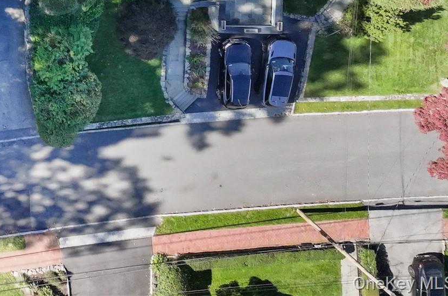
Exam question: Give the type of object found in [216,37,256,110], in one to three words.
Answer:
car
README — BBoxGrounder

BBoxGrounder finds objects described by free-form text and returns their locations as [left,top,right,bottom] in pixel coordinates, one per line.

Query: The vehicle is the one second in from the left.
[255,34,299,109]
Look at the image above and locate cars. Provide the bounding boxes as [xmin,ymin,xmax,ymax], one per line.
[403,252,447,296]
[255,34,299,109]
[216,37,256,110]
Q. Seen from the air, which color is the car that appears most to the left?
blue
